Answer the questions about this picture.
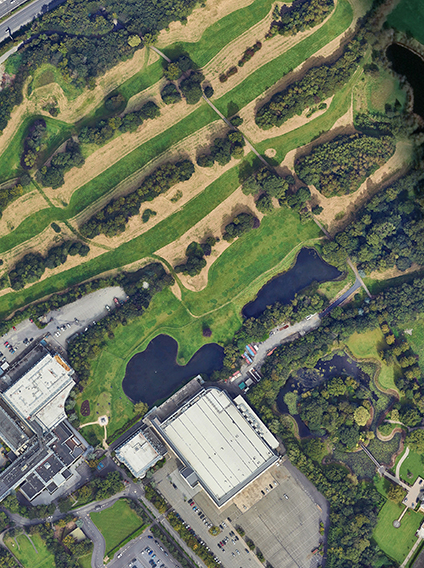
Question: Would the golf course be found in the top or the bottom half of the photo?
top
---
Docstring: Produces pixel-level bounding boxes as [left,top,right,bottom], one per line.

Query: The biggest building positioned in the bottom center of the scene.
[143,374,279,510]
